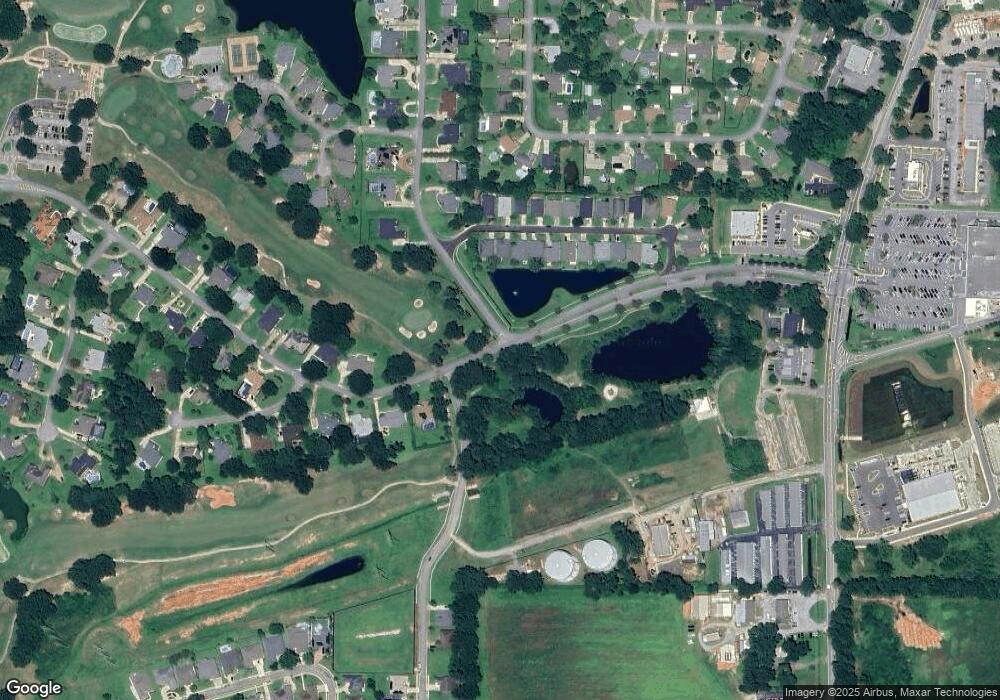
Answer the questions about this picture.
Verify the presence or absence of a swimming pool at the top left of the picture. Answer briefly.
Yes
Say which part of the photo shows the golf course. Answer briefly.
left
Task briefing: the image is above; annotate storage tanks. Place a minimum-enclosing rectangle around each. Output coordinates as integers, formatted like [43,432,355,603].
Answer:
[583,538,616,572]
[544,550,577,584]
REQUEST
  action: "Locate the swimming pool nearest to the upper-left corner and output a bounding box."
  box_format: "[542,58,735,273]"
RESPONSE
[159,53,184,78]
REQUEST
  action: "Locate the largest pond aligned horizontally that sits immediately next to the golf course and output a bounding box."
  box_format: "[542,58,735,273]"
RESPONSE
[488,268,630,317]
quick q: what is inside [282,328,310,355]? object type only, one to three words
house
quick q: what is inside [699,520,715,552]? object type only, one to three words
barn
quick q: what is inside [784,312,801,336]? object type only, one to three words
building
